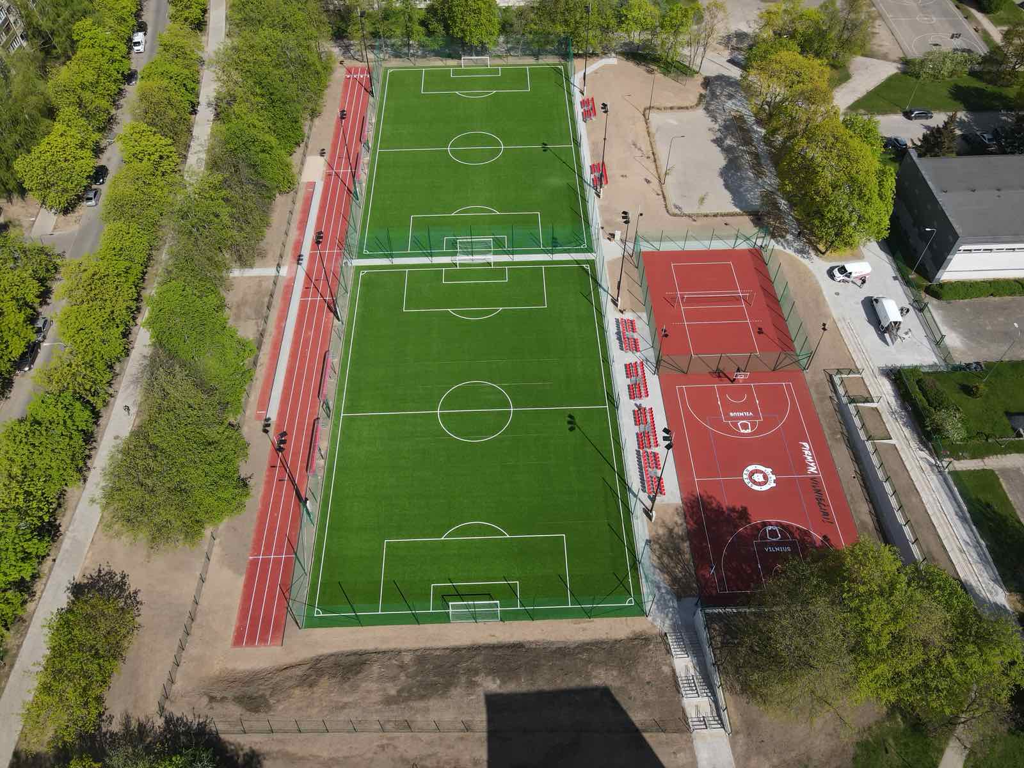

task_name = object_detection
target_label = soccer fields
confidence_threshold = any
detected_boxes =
[301,260,647,628]
[355,62,595,259]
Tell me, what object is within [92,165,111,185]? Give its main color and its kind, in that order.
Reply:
black car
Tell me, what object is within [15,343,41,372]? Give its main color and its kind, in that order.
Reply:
black car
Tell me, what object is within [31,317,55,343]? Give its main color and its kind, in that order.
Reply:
gray car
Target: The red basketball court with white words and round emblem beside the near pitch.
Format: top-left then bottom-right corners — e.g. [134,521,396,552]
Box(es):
[658,370,879,608]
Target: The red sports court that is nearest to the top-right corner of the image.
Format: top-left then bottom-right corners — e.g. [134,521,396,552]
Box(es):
[639,248,804,374]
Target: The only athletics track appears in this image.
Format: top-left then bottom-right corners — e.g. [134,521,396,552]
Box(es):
[231,67,371,647]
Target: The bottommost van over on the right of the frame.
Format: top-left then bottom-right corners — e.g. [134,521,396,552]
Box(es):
[873,303,909,342]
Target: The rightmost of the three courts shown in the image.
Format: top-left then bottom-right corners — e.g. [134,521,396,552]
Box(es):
[874,0,986,58]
